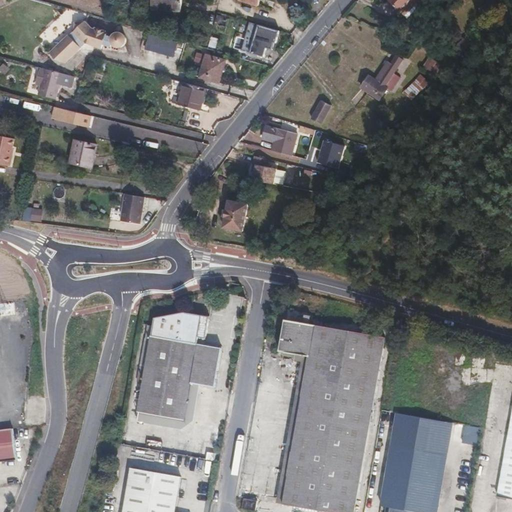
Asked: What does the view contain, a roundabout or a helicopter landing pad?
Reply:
roundabout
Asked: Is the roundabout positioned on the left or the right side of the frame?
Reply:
left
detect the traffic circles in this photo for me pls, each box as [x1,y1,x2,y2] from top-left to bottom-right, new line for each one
[46,238,193,306]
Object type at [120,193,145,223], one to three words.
house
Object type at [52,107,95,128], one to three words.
shed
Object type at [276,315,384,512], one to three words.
building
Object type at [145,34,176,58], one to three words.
barn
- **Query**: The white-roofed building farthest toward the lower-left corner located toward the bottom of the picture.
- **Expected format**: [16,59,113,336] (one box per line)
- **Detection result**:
[121,468,182,512]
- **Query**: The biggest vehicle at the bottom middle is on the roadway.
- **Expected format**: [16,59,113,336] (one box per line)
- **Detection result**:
[232,435,245,476]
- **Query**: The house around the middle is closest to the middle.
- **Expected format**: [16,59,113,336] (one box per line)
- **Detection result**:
[220,200,248,232]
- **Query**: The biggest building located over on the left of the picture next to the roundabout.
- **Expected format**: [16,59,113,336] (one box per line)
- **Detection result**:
[137,312,222,429]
